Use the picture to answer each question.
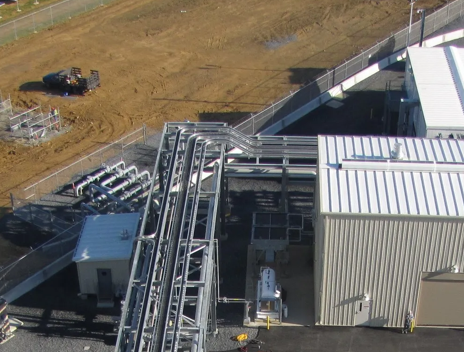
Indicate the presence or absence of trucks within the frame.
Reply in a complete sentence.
Yes, this view includes a truck.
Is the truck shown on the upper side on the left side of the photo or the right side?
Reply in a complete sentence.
The truck shown on the upper side is on the left side of the image.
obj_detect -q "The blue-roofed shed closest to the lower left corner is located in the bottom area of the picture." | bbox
[71,216,138,306]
